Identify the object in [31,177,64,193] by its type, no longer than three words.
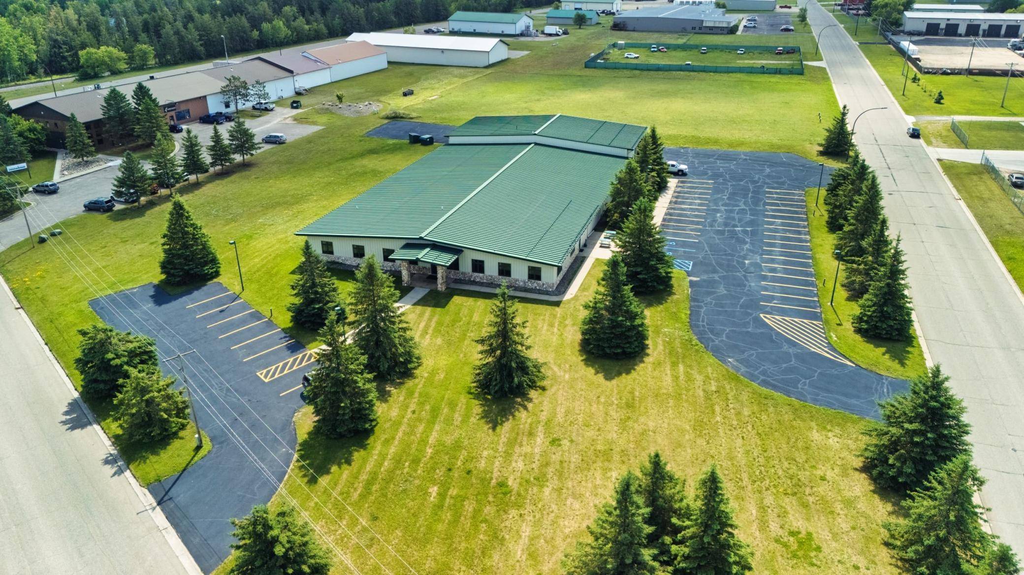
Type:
car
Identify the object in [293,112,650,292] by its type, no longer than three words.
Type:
building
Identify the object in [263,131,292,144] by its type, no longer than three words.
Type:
vehicle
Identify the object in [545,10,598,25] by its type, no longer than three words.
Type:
shed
